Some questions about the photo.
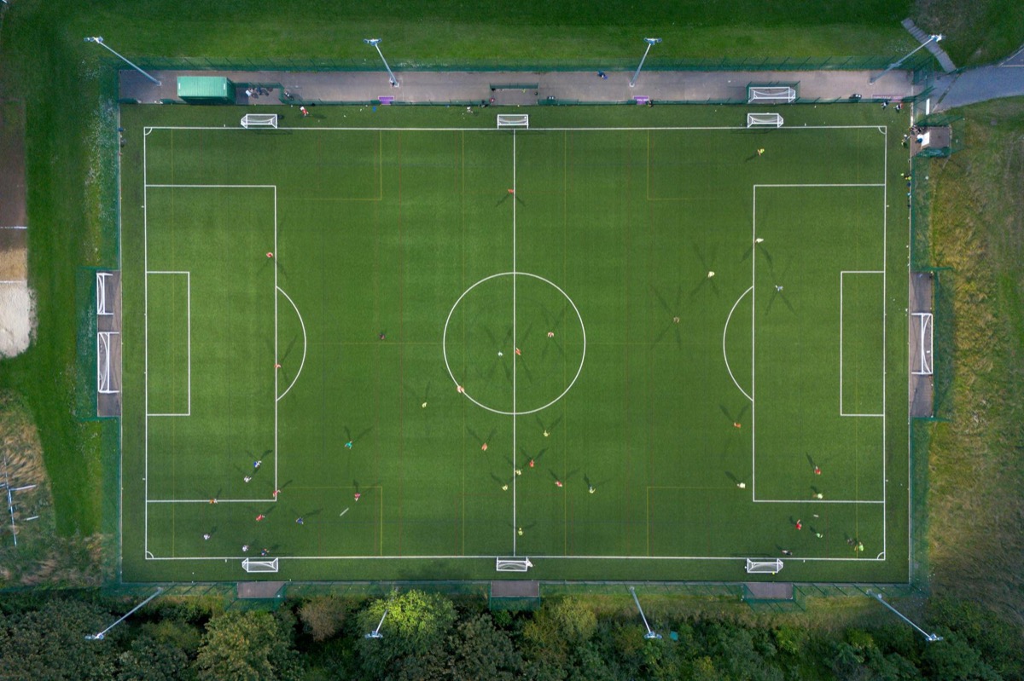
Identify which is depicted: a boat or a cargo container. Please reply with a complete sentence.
There is a cargo container in the scene.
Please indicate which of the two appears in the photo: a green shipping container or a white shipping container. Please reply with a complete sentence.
Looking from above, you can make out a green shipping container.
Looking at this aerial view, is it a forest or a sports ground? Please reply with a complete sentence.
The picture captures a sports ground.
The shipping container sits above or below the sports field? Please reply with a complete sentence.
The shipping container is above the sports field.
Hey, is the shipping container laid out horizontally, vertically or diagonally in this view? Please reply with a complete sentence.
What the image shows is the shipping container lying horizontally.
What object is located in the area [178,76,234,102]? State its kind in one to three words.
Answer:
shipping container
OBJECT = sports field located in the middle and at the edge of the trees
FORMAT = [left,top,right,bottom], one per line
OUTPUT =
[145,129,885,560]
